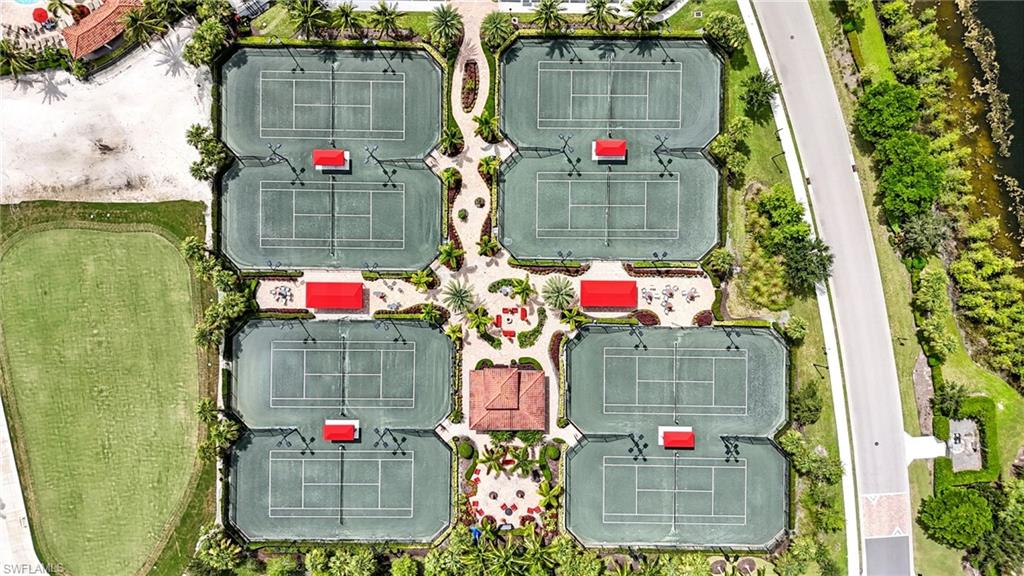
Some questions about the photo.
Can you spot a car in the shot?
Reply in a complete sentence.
No, there appears to be no car in this shot.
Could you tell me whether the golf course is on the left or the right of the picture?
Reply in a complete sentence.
The golf course sits on the left side.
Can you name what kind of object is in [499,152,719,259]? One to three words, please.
tennis court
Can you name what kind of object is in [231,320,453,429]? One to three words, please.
tennis court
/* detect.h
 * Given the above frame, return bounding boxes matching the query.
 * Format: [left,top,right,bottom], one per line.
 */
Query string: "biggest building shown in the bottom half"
[469,368,545,430]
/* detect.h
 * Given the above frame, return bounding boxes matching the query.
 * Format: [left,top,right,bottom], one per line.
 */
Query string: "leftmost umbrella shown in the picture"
[34,8,52,24]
